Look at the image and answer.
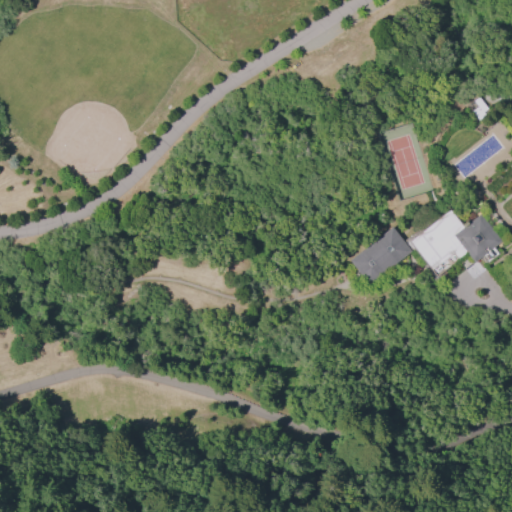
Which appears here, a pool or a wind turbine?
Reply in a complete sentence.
Visible in the photo is a pool.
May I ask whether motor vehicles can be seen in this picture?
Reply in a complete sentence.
No, there is no motor vehicle in the image.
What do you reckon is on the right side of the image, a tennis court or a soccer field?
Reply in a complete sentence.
The feature located on the right side of the image is a tennis court.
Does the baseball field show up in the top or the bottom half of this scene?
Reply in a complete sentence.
It is in the top half that the baseball field appears.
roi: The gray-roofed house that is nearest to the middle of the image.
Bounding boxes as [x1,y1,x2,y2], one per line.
[353,227,412,282]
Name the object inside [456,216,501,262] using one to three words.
house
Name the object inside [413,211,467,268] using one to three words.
house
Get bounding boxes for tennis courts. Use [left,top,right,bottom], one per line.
[386,124,432,198]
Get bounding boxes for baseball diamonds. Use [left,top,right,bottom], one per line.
[0,5,196,184]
